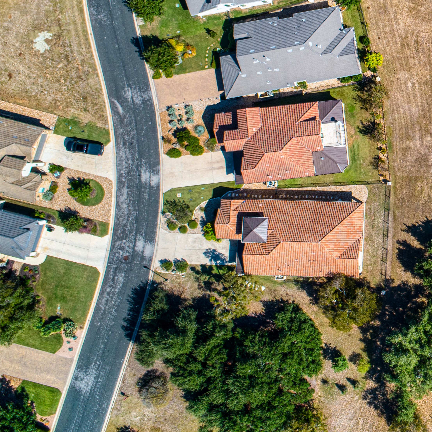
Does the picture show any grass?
Yes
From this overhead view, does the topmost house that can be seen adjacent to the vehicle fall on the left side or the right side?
left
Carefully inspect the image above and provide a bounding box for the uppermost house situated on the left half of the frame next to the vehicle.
[0,116,53,203]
